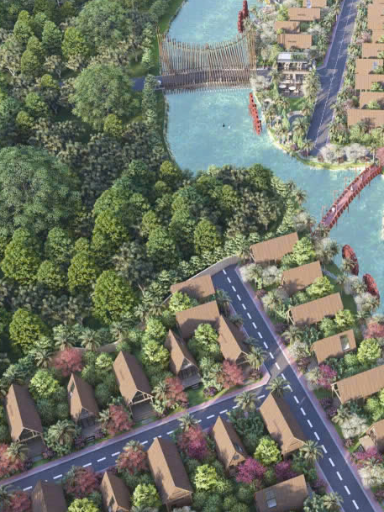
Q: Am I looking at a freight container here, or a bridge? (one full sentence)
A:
Of the two, only a bridge appears.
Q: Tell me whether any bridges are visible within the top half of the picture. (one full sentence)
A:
Yes, you'll find a bridge within the top half of the picture.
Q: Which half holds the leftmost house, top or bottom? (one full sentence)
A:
You can find the leftmost house in the bottom half.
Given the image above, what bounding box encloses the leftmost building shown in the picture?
[5,385,42,455]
